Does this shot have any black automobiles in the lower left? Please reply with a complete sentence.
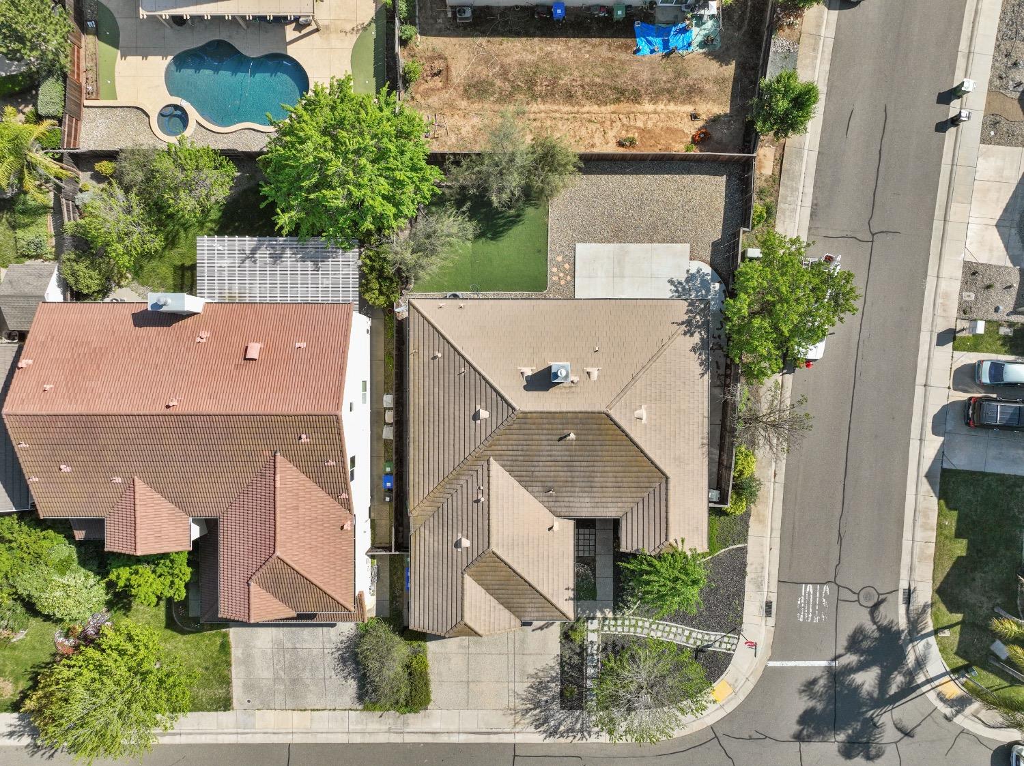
No, I see no black automobile in the lower left.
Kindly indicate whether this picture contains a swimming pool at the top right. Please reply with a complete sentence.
No, there is no swimming pool at the top right.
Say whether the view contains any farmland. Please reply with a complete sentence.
No, the scene doesn't show any farmland.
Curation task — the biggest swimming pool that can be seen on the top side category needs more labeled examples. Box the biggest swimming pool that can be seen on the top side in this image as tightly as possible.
[163,36,308,125]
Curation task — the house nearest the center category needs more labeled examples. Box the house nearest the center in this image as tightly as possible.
[406,297,711,639]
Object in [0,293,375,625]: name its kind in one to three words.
house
